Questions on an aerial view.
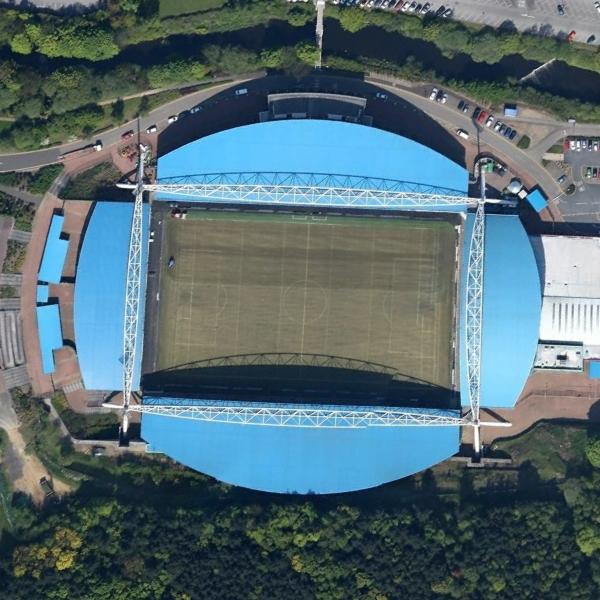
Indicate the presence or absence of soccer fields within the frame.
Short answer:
Yes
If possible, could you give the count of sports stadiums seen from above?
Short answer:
1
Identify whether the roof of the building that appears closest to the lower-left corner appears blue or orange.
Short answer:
blue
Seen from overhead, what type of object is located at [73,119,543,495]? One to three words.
stadium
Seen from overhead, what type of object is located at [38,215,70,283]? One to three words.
building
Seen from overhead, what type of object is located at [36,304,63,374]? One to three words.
building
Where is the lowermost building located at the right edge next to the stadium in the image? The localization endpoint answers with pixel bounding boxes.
[533,235,600,371]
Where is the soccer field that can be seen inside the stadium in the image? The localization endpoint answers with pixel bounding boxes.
[156,207,454,401]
